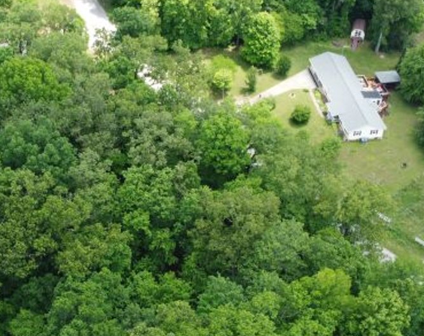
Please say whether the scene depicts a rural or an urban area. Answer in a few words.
rural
